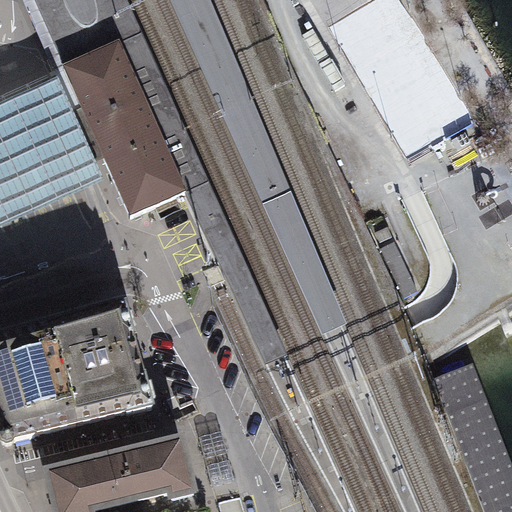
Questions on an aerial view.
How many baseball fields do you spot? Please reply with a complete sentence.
I count no baseball fields.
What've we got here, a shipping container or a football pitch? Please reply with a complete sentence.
There is a shipping container in the scene.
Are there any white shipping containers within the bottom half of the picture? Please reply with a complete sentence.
No, no white shipping container appears within the bottom half of the picture.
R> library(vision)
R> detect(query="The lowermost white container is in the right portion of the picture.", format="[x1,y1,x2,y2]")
[319,58,345,94]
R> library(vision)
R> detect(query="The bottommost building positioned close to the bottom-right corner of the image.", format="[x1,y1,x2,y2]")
[434,364,512,512]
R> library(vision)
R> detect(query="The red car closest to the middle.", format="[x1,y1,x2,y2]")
[218,348,231,370]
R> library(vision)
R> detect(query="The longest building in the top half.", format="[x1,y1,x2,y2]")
[60,40,188,220]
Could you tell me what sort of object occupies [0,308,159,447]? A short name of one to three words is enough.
building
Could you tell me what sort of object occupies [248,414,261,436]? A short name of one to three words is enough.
vehicle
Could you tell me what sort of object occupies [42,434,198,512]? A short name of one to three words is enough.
building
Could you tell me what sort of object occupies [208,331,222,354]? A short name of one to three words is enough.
car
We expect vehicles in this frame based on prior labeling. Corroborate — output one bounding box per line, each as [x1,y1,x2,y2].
[155,352,178,363]
[202,313,216,336]
[218,348,231,370]
[152,339,173,350]
[208,331,222,354]
[246,500,256,512]
[224,365,238,388]
[248,414,261,436]
[171,384,194,396]
[291,0,302,8]
[165,210,190,226]
[164,366,188,380]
